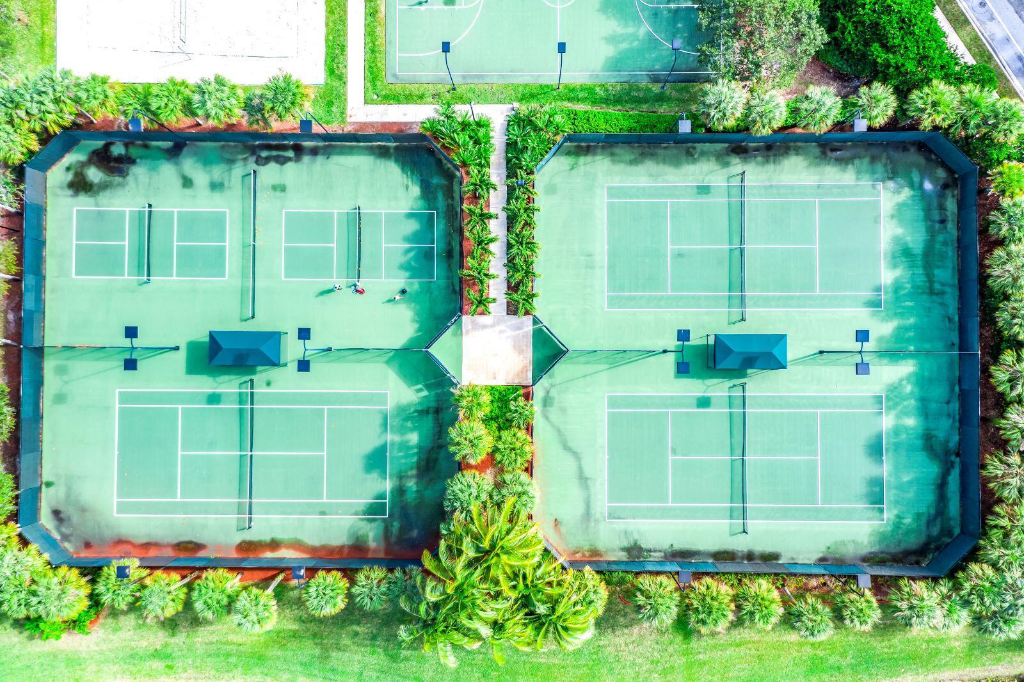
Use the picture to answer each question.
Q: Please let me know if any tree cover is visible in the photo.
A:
Yes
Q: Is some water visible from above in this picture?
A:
No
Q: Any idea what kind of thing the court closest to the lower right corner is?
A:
tennis court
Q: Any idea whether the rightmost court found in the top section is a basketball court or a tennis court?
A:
tennis court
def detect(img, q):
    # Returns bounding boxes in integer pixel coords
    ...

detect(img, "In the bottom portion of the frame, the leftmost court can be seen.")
[114,389,389,517]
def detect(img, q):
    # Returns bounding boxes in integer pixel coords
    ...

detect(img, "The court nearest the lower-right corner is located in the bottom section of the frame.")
[606,394,886,522]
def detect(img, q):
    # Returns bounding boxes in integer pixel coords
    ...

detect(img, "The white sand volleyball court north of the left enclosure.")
[56,0,325,84]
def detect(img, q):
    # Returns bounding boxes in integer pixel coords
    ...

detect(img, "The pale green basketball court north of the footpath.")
[397,0,723,74]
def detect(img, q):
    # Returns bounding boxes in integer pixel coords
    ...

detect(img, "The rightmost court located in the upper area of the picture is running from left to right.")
[606,182,883,310]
